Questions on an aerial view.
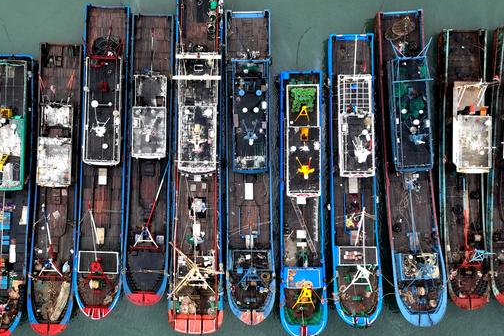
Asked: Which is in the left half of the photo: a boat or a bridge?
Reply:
boat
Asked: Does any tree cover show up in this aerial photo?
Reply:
No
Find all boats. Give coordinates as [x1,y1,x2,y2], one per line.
[276,71,328,336]
[223,11,275,325]
[485,26,504,303]
[372,12,448,328]
[165,0,225,335]
[74,6,132,321]
[325,35,382,328]
[122,15,176,306]
[433,30,497,310]
[26,45,84,336]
